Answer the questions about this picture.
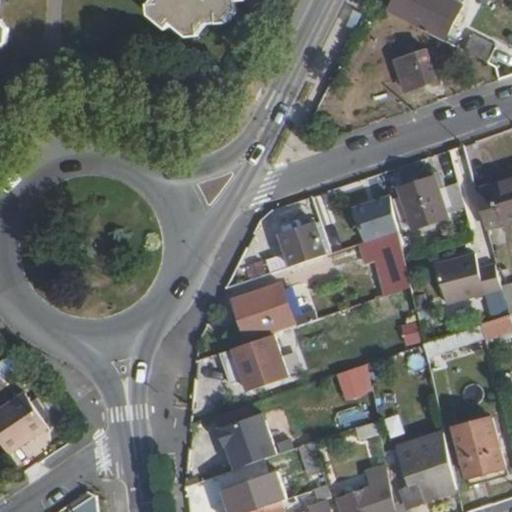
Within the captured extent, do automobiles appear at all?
Yes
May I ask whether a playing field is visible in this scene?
No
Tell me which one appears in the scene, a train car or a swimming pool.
swimming pool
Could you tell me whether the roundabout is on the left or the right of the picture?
left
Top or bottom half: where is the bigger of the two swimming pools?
bottom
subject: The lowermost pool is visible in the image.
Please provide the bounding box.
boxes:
[334,402,370,429]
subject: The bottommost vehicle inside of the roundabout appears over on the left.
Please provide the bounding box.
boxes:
[172,278,188,300]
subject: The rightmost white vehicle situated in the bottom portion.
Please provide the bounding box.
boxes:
[134,361,146,384]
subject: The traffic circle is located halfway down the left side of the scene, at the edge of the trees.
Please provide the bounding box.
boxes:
[0,151,214,365]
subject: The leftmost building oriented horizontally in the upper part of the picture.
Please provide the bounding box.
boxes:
[142,0,240,44]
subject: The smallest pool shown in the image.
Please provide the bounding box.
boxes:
[408,352,426,371]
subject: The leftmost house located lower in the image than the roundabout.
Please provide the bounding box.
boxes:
[0,384,53,468]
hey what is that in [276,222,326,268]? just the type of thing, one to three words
house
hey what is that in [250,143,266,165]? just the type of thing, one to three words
car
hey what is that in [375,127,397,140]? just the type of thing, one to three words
vehicle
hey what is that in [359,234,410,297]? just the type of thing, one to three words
shed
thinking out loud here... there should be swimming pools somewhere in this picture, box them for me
[334,402,370,429]
[408,352,426,371]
